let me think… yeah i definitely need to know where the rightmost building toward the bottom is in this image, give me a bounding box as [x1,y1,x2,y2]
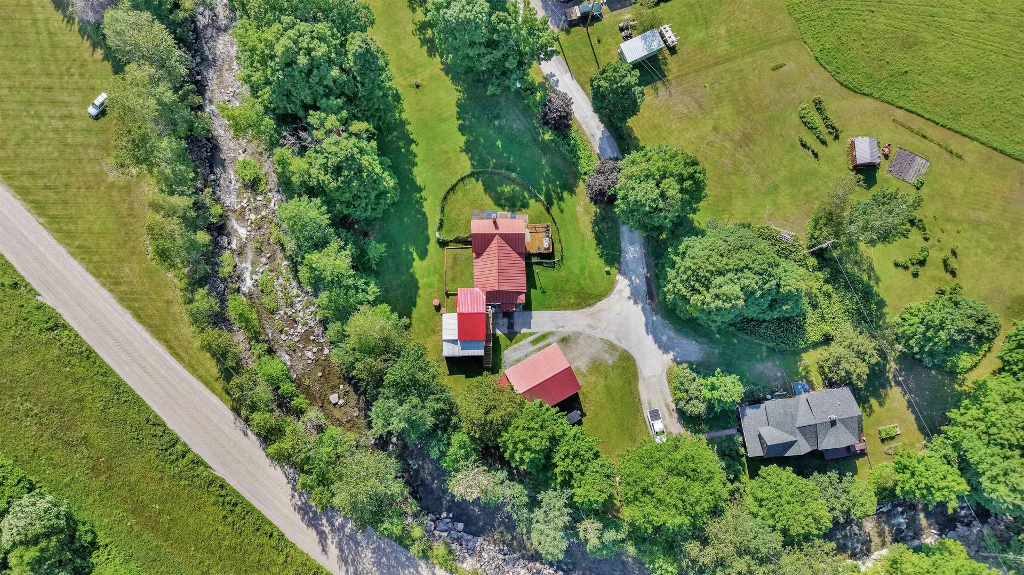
[734,387,862,458]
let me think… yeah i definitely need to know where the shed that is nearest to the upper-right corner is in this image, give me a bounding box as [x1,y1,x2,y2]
[847,137,880,167]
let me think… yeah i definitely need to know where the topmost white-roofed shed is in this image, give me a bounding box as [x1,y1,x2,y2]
[619,29,664,65]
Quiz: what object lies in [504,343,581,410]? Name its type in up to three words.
barn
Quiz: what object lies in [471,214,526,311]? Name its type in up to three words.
house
